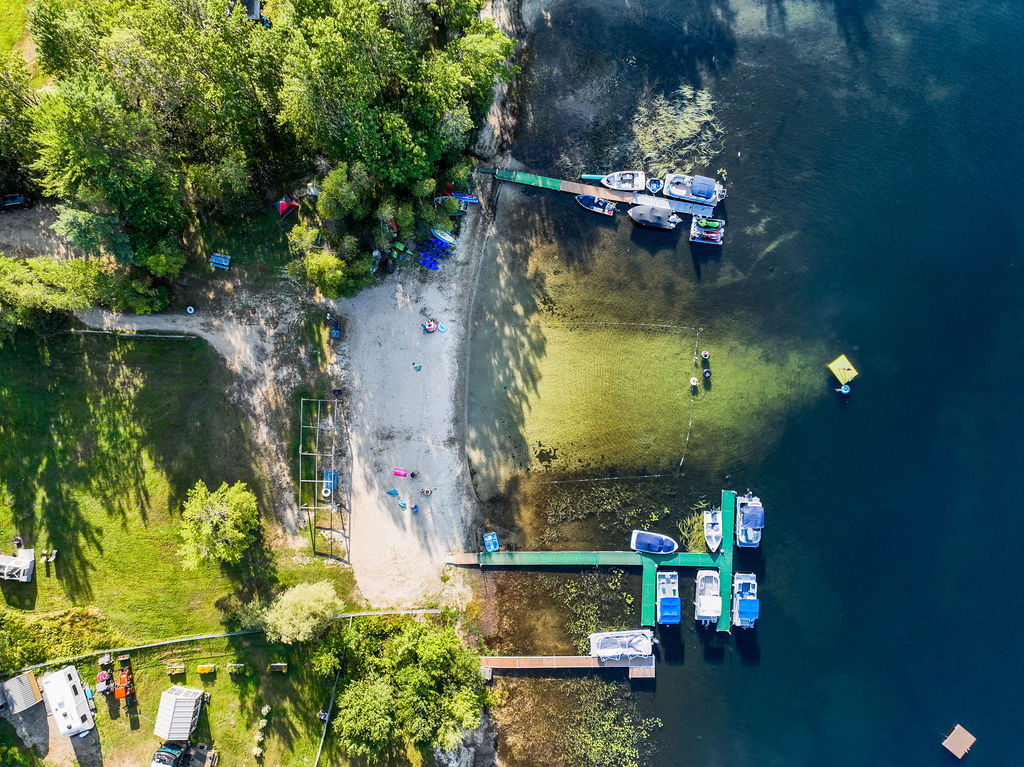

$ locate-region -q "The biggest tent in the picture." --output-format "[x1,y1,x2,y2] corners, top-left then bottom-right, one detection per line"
[270,190,299,222]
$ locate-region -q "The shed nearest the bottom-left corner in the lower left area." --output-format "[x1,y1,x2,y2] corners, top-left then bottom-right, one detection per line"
[0,669,45,717]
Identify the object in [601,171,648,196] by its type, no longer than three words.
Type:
boat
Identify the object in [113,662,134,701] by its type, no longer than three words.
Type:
work vehicle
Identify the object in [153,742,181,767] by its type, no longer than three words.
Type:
truck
